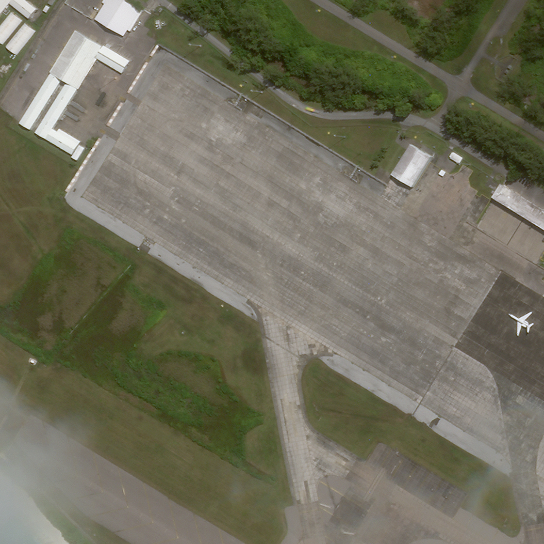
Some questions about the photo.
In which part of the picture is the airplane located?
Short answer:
right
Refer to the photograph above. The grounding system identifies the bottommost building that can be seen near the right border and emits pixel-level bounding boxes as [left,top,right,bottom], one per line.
[491,184,544,230]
